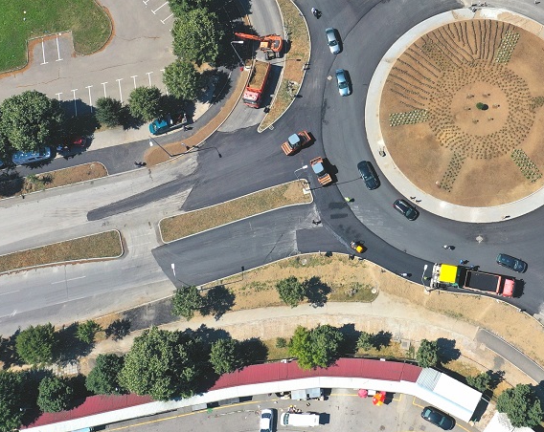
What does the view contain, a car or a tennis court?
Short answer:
car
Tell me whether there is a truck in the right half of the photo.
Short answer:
Yes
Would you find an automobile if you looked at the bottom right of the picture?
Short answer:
Yes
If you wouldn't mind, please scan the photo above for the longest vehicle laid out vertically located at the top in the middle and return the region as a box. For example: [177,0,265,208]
[241,56,273,110]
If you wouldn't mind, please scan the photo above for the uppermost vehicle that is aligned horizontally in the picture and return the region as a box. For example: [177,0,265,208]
[234,37,288,58]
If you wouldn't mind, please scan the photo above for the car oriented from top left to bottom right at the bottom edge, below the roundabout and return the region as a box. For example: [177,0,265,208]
[421,405,453,432]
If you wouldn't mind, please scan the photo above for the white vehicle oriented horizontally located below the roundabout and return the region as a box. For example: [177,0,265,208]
[279,411,321,429]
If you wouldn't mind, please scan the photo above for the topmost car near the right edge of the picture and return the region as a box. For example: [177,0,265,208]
[497,251,527,273]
